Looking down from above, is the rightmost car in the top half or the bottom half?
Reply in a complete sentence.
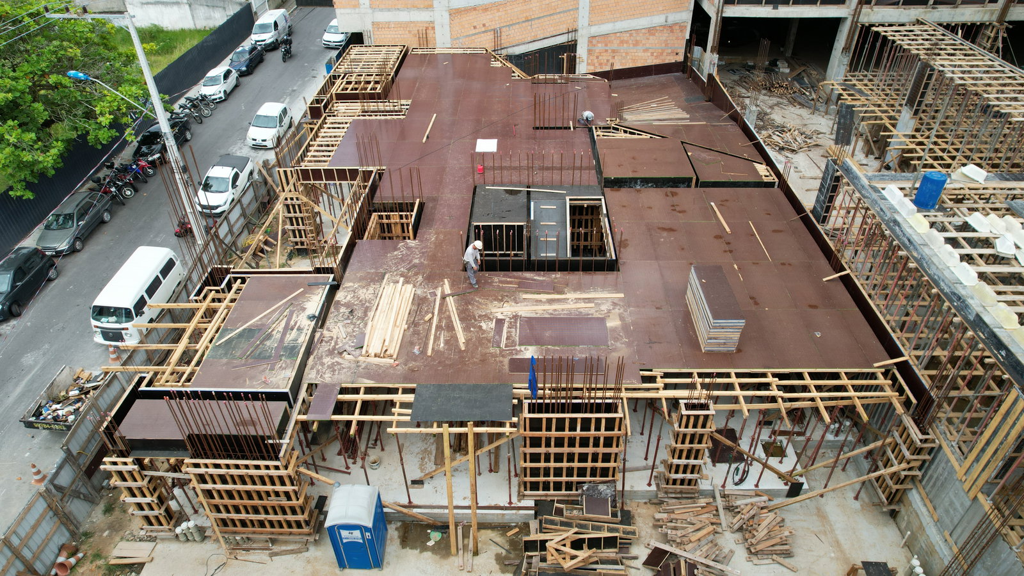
Seen from above, the rightmost car lies in the top half of the view.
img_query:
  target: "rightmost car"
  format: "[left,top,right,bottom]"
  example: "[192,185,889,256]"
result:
[322,16,347,43]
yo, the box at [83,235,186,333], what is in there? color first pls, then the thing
white van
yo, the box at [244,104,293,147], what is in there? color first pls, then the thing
white car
